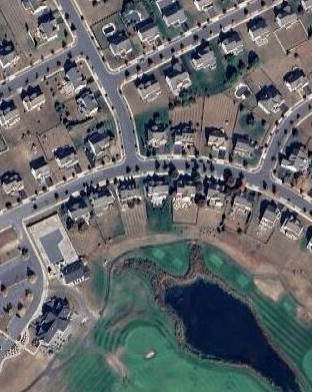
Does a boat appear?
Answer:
No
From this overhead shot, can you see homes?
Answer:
Yes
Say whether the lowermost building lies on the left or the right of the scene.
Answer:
left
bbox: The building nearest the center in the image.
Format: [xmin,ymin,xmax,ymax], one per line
[149,179,167,203]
